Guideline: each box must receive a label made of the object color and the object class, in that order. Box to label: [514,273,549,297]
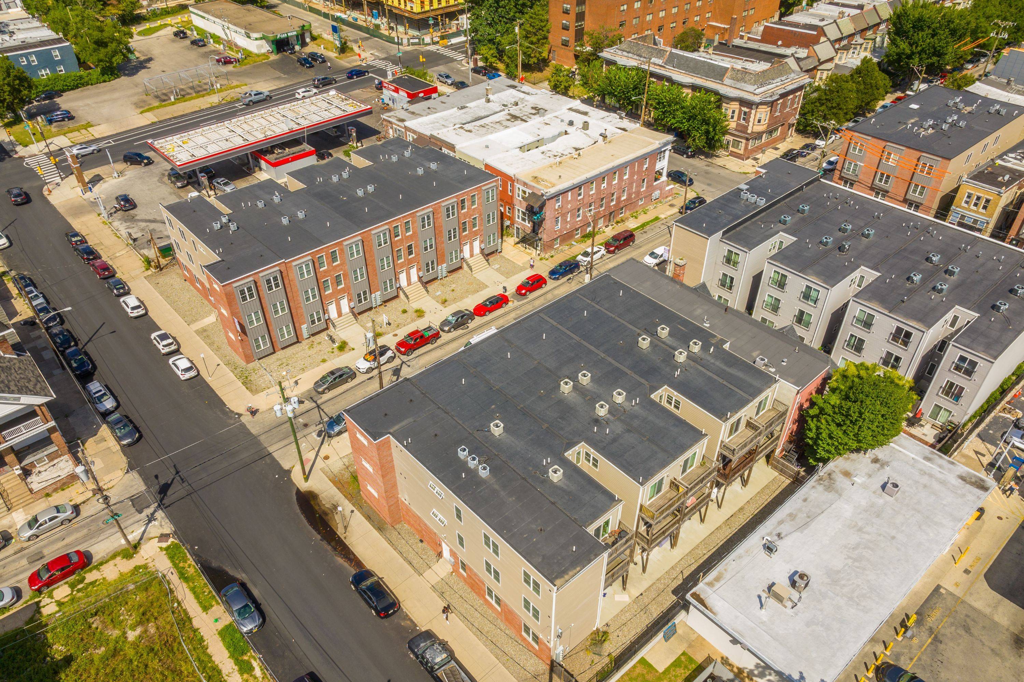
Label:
red car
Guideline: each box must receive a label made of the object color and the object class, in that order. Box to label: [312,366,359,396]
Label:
gray car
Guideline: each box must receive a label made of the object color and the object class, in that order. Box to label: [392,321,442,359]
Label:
red truck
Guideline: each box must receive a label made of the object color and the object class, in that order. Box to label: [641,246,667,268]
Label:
white car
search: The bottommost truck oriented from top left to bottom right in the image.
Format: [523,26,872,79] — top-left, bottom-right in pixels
[406,627,472,682]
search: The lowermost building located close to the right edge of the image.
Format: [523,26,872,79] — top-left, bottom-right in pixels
[678,431,1002,682]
